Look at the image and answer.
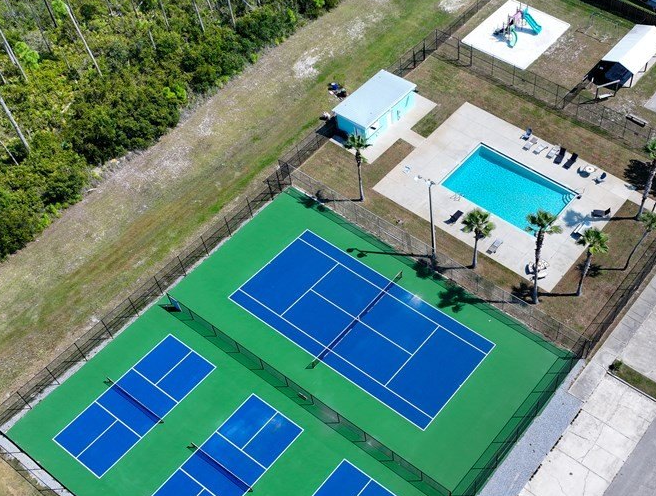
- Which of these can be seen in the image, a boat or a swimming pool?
swimming pool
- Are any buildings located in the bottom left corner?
No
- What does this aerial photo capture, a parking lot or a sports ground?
sports ground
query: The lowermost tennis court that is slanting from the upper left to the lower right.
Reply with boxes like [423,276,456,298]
[161,186,580,496]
